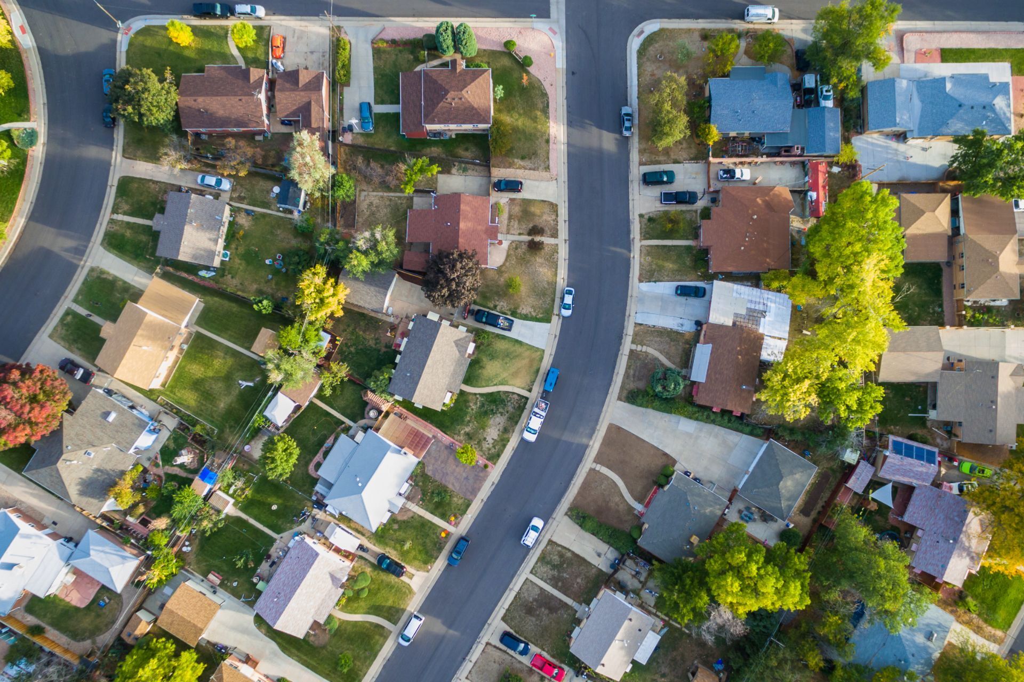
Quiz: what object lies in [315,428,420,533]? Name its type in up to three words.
house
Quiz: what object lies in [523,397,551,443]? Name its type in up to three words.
truck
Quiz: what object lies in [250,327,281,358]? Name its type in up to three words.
shed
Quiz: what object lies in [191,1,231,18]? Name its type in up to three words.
car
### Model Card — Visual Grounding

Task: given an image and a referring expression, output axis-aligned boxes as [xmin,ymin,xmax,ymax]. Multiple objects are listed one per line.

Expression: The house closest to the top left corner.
[177,65,273,134]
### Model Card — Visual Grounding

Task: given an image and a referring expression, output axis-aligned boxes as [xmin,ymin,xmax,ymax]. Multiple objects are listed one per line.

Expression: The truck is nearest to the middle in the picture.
[473,309,515,331]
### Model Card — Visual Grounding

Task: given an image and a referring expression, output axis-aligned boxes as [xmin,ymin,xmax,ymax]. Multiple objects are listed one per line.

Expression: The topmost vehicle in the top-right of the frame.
[743,4,779,23]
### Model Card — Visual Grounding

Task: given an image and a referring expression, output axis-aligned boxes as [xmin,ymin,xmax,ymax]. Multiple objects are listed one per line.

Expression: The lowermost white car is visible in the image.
[400,612,424,647]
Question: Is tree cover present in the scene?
Yes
